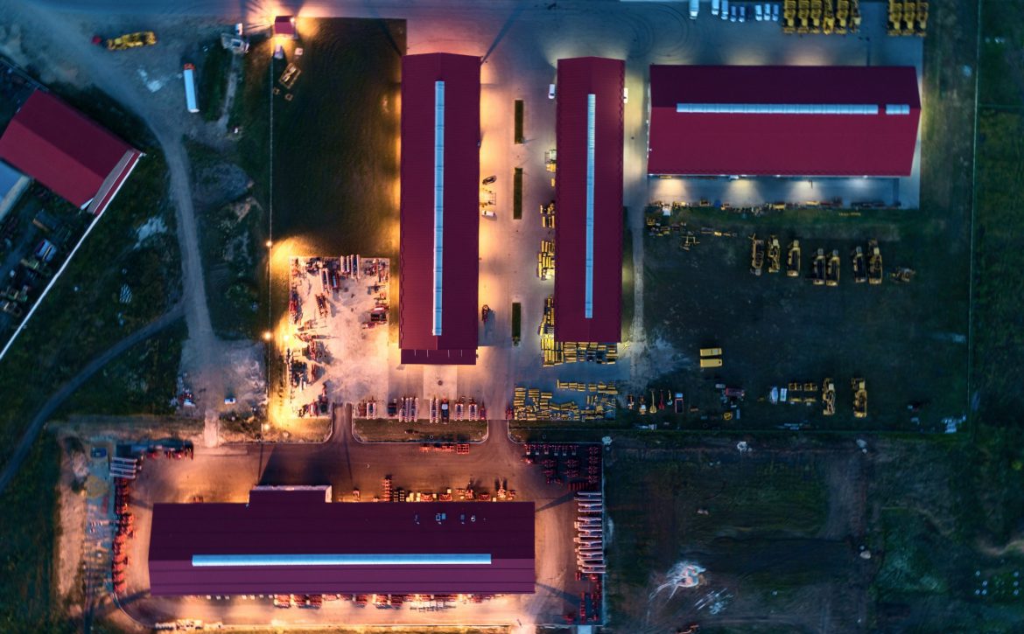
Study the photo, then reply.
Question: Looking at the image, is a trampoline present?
No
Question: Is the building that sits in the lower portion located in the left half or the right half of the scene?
left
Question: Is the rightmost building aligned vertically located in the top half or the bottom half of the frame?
top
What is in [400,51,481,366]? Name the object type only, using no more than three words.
building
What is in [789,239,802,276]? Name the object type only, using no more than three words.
vehicle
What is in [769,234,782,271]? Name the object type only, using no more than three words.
vehicle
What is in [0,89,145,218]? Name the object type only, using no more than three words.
warehouse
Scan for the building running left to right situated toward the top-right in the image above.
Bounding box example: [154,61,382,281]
[647,65,924,179]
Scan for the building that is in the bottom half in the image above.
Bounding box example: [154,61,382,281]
[141,486,535,596]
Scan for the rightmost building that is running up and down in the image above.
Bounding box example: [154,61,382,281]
[555,55,625,342]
